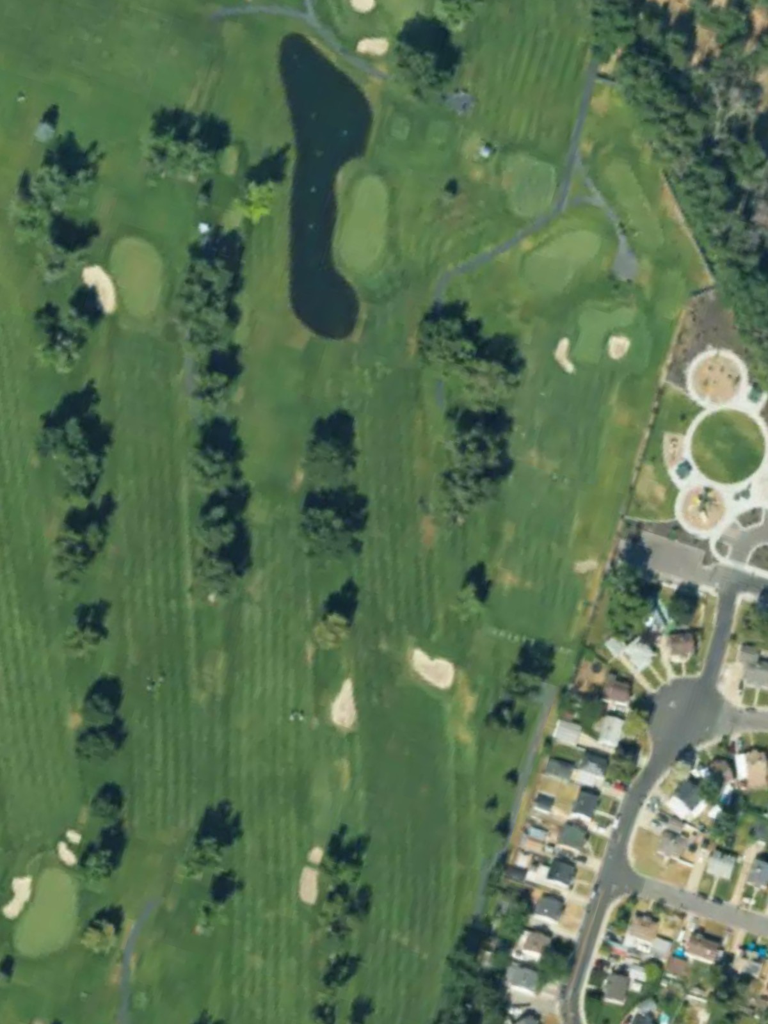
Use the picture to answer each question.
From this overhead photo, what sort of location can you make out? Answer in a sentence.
It's a golf course.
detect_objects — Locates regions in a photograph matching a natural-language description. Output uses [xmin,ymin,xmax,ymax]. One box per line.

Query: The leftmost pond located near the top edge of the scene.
[280,34,371,338]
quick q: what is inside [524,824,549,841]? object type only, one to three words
shed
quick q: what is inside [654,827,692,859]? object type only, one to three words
house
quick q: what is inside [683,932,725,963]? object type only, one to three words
house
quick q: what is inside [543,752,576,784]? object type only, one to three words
building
